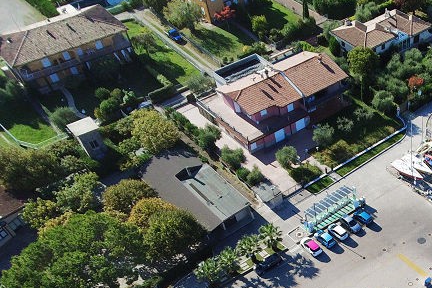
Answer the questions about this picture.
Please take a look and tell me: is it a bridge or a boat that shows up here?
boat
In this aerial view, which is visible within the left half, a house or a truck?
house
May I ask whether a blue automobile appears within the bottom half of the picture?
Yes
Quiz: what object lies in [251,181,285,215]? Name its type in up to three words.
shed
